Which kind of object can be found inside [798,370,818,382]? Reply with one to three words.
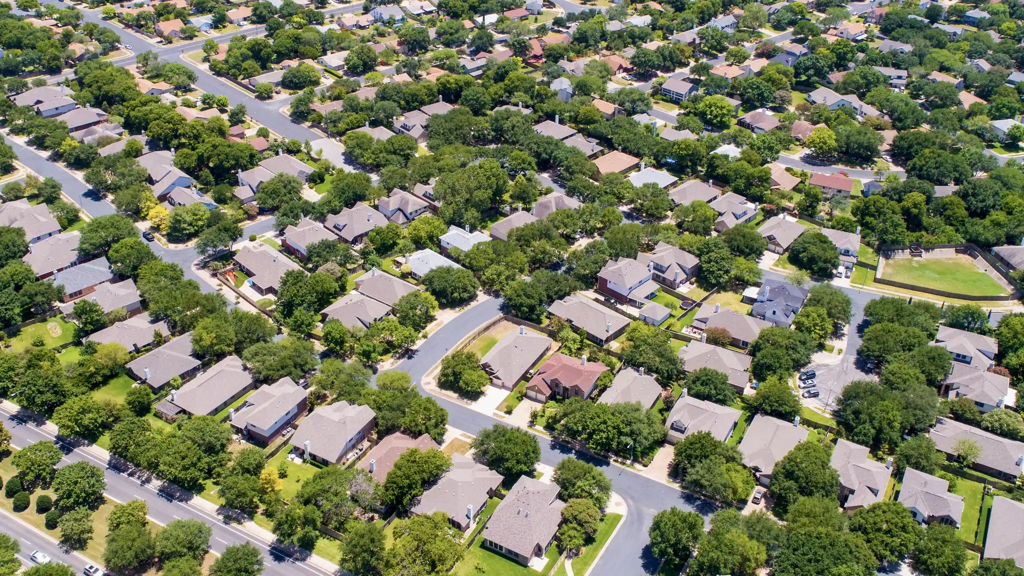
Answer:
vehicle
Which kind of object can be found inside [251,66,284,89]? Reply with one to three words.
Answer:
house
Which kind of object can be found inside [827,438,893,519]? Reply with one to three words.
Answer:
house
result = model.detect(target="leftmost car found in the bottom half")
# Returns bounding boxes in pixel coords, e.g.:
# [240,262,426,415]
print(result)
[29,552,52,566]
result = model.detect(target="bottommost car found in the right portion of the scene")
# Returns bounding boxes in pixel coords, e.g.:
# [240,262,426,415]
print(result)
[750,487,765,504]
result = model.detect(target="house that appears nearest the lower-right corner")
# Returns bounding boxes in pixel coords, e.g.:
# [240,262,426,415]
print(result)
[984,496,1024,571]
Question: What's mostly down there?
trees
